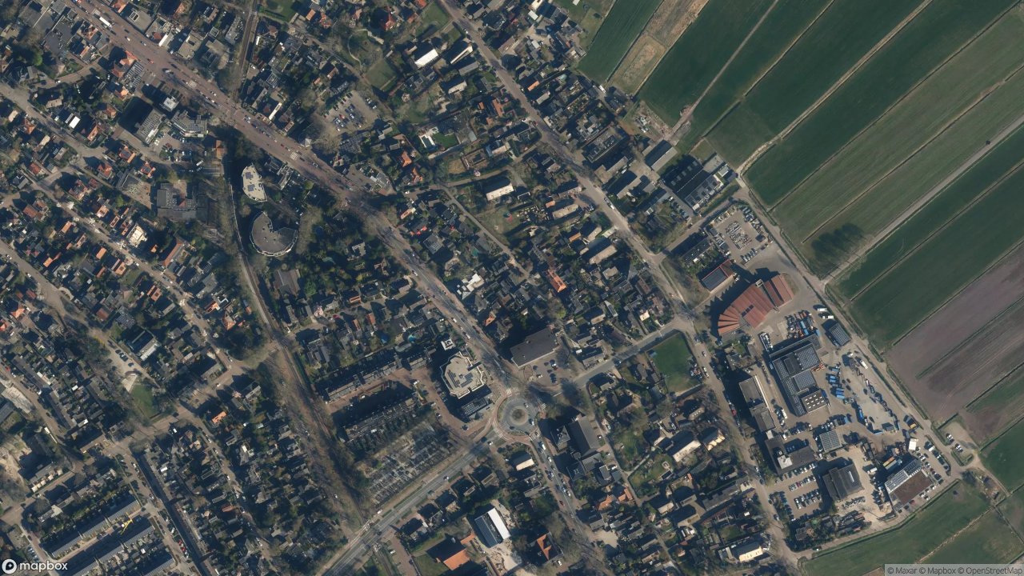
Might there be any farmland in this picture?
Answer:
Yes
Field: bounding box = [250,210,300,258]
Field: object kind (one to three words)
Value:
building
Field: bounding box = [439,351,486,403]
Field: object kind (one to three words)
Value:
building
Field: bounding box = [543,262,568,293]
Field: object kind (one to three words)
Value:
house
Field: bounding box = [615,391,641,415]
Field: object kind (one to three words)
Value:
house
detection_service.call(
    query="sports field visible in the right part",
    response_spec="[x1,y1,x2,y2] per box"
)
[646,330,702,393]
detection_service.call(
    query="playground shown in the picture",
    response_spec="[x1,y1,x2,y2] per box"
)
[474,206,518,246]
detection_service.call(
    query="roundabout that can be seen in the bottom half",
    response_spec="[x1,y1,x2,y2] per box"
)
[489,385,548,444]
